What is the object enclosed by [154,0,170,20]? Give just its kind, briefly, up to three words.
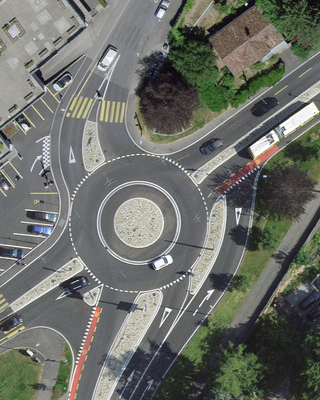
car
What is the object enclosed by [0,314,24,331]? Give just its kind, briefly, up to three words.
car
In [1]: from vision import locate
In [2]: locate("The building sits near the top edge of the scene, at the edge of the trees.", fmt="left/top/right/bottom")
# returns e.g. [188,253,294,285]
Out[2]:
[210,5,286,77]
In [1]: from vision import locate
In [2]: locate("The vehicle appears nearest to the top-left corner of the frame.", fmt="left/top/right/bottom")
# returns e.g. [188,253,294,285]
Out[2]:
[53,72,74,90]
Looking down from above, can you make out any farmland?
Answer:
No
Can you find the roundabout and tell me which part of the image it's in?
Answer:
center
